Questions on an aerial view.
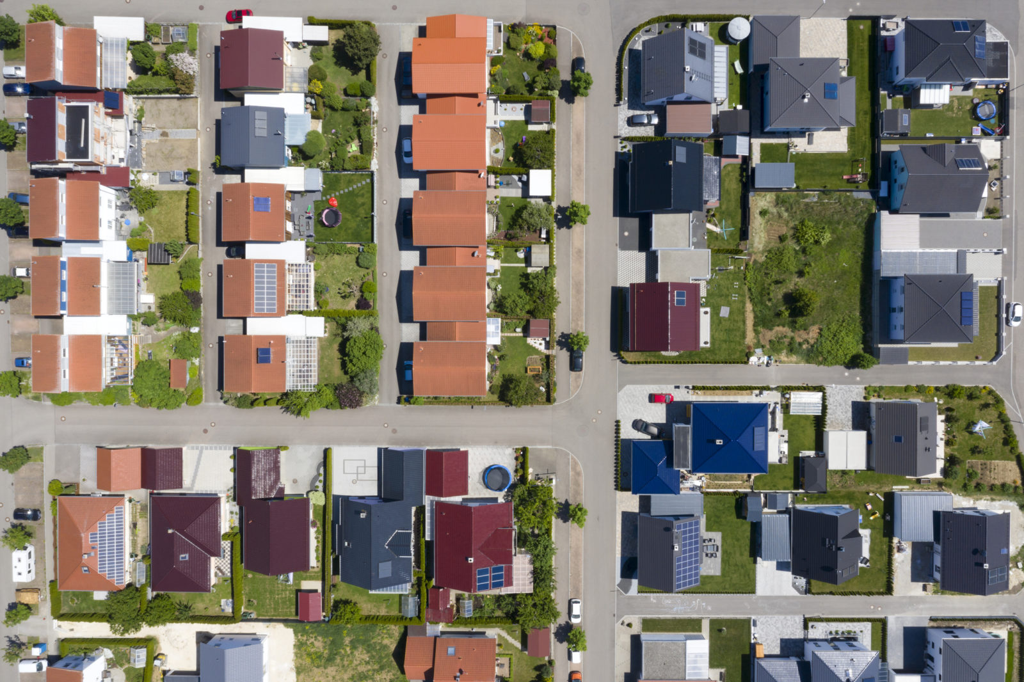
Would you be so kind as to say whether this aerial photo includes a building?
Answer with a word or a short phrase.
Yes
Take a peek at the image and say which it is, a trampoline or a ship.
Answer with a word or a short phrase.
trampoline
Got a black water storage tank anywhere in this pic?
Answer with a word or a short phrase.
No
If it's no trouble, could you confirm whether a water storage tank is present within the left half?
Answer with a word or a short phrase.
No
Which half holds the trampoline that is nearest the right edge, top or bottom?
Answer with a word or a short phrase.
top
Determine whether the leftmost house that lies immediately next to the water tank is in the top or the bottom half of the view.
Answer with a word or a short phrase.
top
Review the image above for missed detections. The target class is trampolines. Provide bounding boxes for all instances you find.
[977,98,1000,120]
[320,206,341,227]
[483,464,511,493]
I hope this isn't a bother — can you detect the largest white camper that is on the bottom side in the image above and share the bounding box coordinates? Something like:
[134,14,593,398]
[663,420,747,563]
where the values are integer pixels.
[13,544,34,583]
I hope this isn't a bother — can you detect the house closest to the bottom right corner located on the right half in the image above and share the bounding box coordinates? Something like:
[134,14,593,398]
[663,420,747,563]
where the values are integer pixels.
[927,629,1005,682]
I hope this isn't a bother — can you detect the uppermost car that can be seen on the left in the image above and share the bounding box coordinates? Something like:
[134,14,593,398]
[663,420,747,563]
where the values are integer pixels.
[227,9,253,22]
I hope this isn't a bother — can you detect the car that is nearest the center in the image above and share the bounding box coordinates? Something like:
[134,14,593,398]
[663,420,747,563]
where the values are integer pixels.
[571,349,584,372]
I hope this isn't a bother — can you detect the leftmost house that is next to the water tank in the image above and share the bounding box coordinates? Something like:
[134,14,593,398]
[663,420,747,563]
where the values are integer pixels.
[640,27,714,109]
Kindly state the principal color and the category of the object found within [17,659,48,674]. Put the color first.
white vehicle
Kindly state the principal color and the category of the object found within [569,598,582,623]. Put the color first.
white vehicle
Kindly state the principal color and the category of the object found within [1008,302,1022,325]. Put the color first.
white car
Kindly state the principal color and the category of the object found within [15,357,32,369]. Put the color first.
blue vehicle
